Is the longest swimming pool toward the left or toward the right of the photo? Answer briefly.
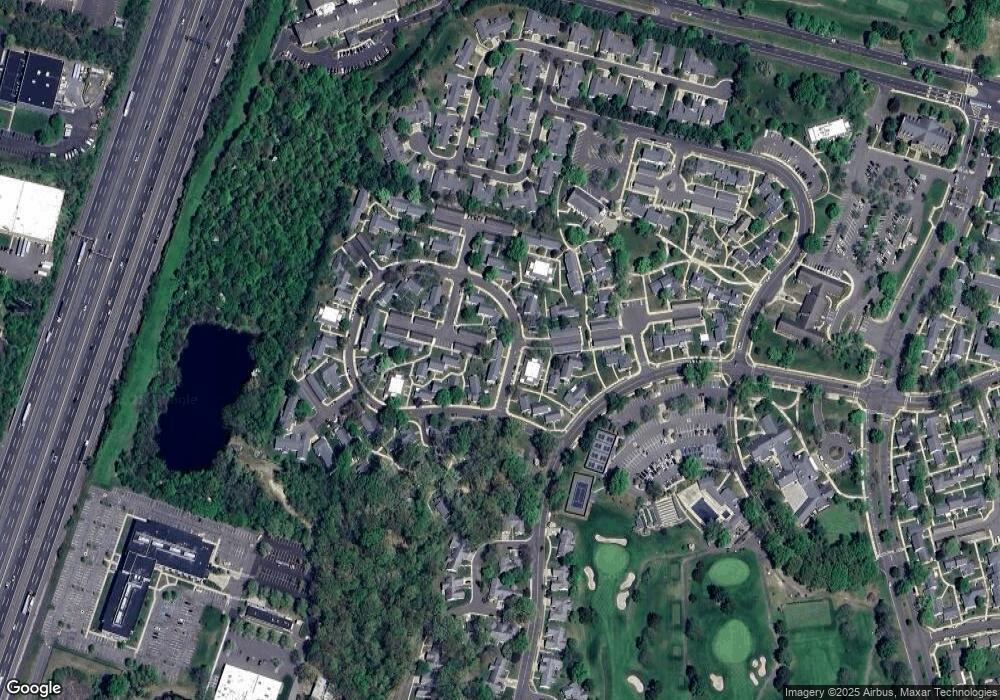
right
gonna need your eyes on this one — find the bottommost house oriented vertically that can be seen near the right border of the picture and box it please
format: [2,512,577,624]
[948,648,964,684]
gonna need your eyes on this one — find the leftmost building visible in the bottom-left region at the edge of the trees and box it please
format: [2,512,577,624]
[103,519,215,639]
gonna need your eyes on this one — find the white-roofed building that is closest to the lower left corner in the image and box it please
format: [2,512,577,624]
[214,664,283,700]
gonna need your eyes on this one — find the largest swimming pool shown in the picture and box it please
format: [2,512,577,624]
[678,482,721,523]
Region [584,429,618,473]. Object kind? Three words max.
sports court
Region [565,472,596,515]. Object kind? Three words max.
tennis court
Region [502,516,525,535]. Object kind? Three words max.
house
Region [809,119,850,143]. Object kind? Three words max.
building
